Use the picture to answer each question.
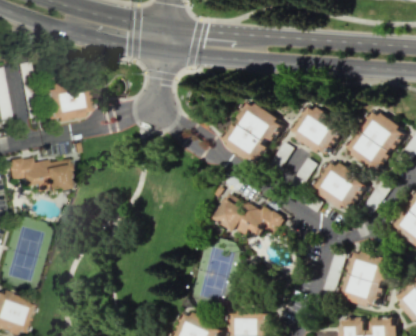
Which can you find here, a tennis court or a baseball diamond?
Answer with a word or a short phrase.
tennis court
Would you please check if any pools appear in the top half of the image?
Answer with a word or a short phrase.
No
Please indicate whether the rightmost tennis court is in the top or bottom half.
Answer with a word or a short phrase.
bottom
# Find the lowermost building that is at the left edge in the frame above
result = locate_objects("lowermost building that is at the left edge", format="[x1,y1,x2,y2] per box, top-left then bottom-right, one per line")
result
[0,290,41,334]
